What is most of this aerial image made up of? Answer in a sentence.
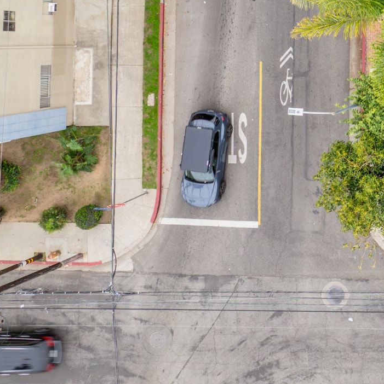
For the most part, this view shows paved ground.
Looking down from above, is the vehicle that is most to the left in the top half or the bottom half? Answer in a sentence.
The bottom half of the photo is where the vehicle that is most to the left is.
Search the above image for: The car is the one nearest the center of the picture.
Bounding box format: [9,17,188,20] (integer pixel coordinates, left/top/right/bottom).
[180,112,233,203]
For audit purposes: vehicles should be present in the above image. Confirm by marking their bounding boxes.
[180,112,233,203]
[0,330,57,381]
